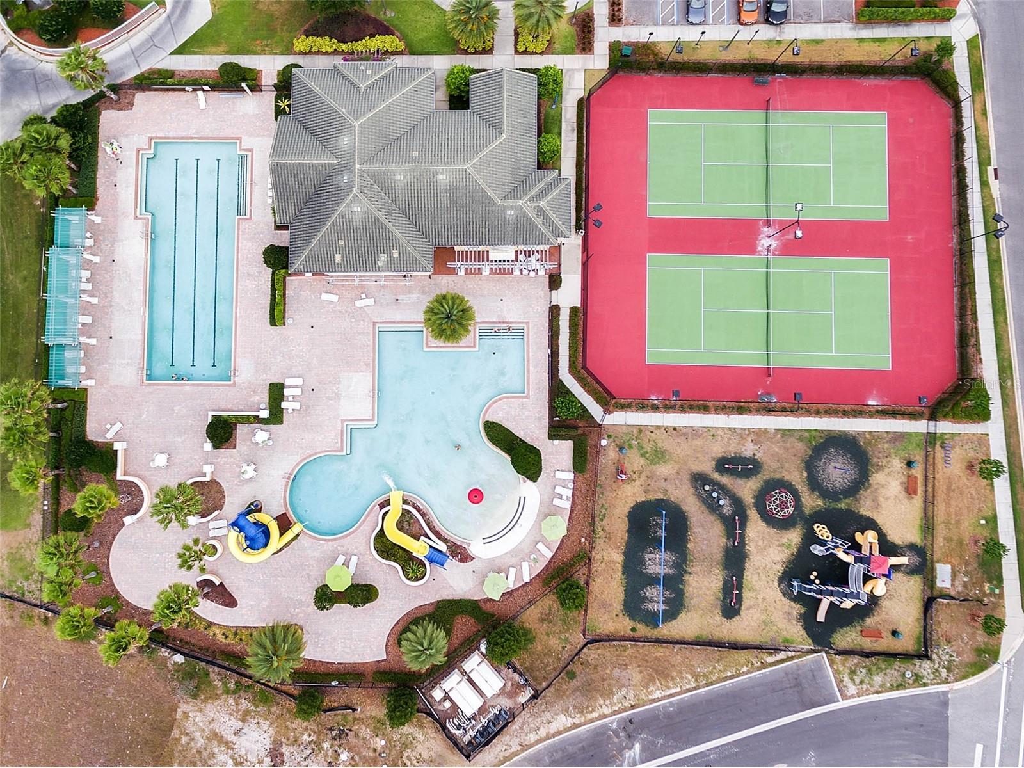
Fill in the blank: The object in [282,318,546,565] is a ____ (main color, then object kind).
white swimming pool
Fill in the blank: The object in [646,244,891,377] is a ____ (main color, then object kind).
green tennis court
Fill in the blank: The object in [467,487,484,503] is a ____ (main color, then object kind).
red fountain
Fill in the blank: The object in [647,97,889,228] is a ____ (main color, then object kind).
green tennis court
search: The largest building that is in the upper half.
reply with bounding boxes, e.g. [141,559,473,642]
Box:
[271,61,572,275]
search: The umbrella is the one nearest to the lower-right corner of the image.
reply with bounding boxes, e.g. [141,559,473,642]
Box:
[540,513,567,540]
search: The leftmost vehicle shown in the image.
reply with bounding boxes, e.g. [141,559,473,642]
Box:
[685,0,708,25]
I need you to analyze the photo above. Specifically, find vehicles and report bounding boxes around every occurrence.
[766,0,789,26]
[738,0,761,26]
[685,0,708,25]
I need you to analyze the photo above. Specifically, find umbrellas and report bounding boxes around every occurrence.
[483,573,507,597]
[325,564,352,590]
[540,513,567,540]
